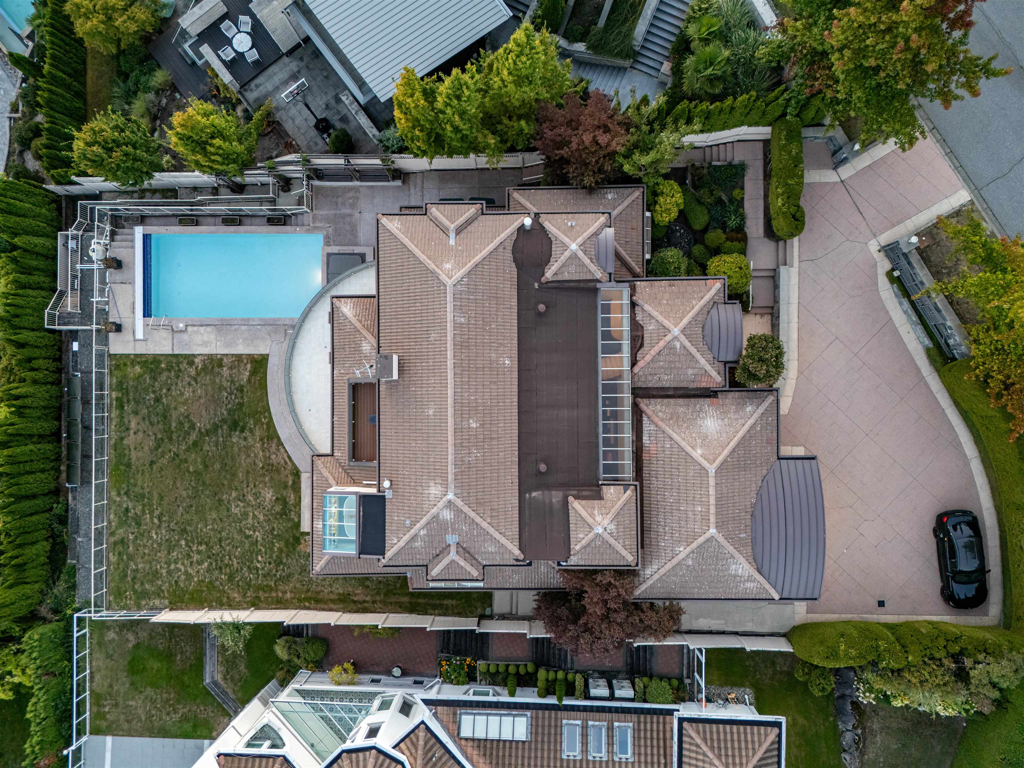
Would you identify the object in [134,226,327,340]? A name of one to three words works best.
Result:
swimming pool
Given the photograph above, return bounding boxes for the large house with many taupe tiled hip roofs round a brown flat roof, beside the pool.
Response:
[283,183,824,604]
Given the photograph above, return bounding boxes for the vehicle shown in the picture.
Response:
[929,513,995,611]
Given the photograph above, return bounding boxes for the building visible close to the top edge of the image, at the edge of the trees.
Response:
[285,0,514,108]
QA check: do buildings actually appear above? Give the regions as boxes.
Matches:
[285,0,514,108]
[171,661,788,768]
[283,183,824,604]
